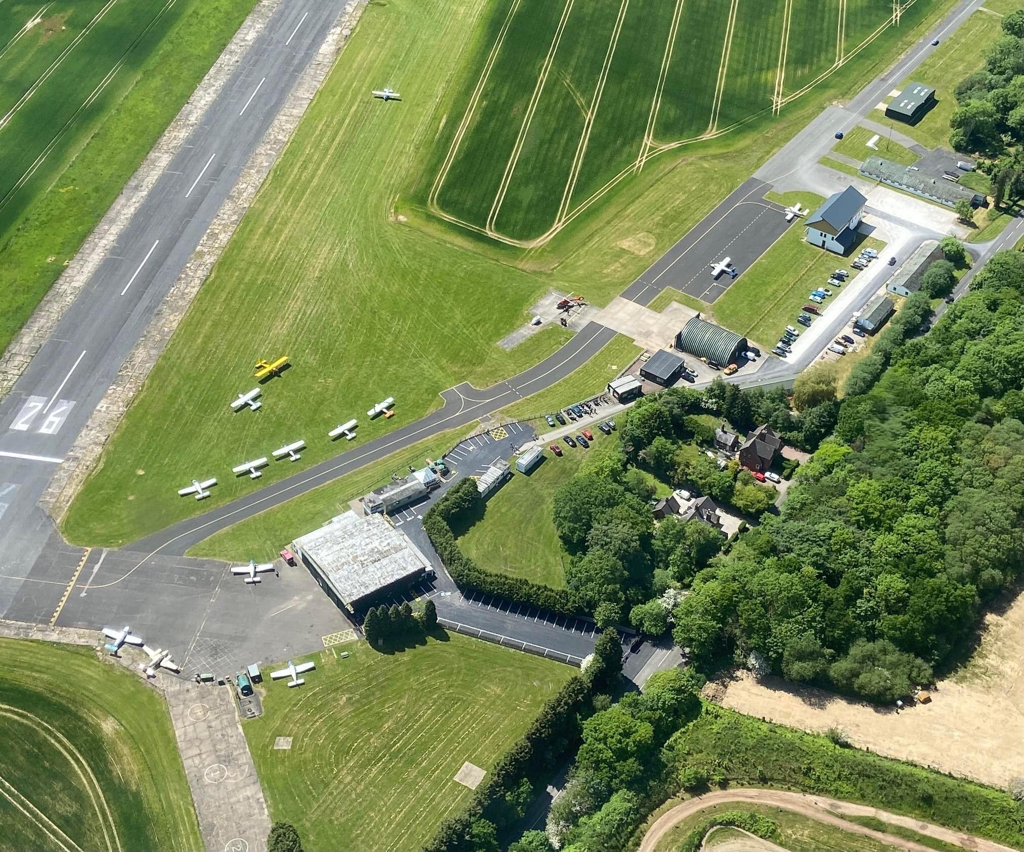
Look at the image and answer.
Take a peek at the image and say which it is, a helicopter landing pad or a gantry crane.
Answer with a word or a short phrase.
helicopter landing pad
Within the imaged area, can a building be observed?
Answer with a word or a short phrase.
Yes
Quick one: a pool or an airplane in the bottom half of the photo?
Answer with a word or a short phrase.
airplane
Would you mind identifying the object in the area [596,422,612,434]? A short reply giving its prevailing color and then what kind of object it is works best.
gray vehicle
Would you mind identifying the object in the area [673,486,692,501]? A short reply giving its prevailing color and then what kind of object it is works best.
white vehicle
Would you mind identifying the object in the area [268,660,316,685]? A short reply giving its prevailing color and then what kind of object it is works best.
white airplane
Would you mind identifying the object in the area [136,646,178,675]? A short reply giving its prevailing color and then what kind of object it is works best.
white airplane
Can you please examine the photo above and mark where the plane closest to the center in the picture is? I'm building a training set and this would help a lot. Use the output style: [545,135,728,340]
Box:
[366,398,396,418]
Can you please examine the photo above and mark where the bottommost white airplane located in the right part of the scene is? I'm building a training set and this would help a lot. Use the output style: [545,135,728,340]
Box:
[710,255,737,279]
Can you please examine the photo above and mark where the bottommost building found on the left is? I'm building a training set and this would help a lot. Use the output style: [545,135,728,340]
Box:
[292,506,438,621]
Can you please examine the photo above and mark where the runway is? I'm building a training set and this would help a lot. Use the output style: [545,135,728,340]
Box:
[0,0,348,512]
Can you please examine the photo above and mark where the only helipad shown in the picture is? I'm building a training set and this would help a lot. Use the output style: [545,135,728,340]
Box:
[499,288,601,350]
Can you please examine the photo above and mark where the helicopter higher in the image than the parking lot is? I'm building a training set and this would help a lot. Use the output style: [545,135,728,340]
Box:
[552,292,584,309]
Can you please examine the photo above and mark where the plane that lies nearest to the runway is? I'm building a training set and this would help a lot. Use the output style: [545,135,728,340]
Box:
[372,88,402,102]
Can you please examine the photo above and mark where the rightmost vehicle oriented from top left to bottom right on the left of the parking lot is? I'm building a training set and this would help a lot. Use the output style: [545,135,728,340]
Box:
[279,547,296,565]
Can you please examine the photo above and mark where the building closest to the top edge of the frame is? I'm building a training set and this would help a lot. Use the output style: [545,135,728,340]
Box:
[884,83,935,125]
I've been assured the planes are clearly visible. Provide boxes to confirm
[230,388,262,409]
[327,418,359,439]
[177,478,217,499]
[710,255,737,279]
[366,398,396,418]
[255,358,287,378]
[372,88,402,102]
[229,559,275,581]
[270,440,306,460]
[231,457,269,478]
[99,624,147,650]
[268,660,316,685]
[136,646,178,675]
